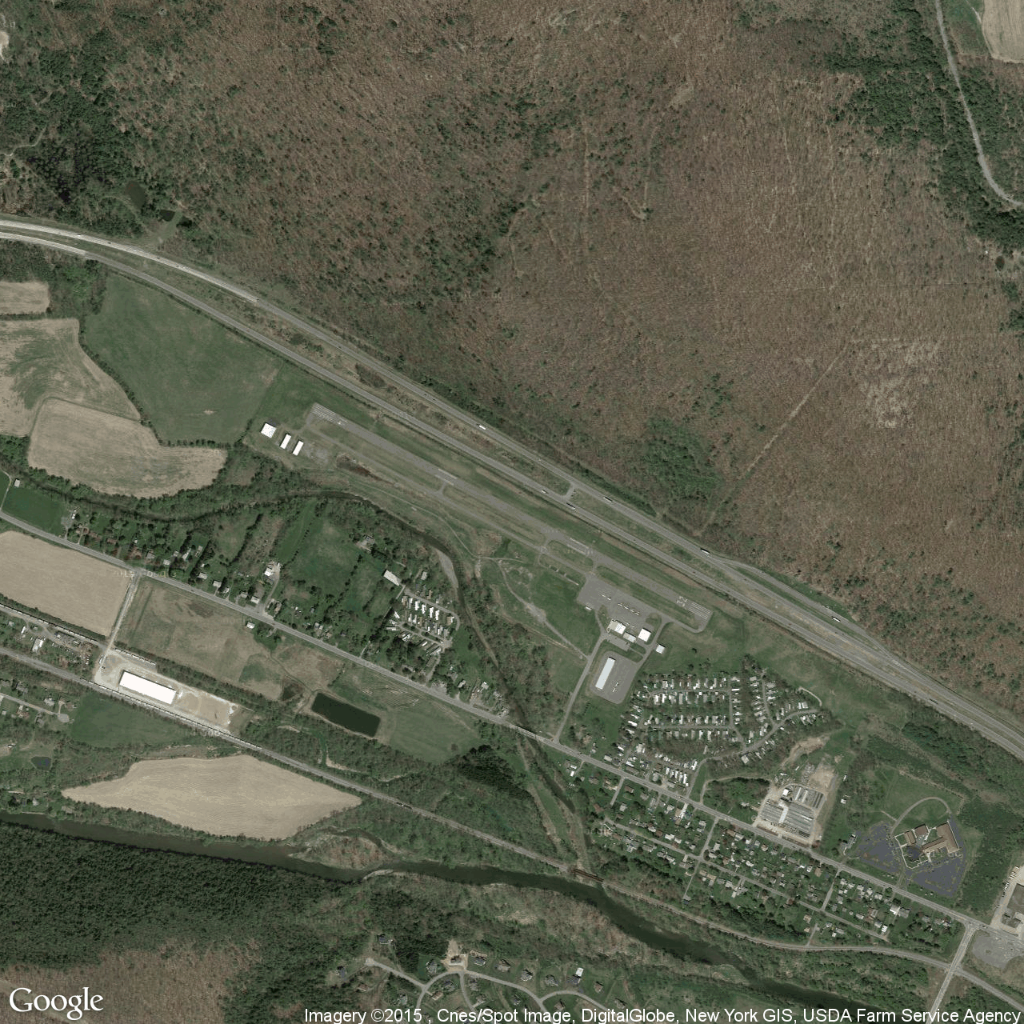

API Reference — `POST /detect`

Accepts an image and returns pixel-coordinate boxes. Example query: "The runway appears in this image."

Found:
[311,402,712,621]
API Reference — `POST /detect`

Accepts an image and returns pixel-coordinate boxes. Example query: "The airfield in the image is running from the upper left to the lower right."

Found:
[267,402,712,703]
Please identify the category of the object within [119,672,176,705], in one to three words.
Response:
building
